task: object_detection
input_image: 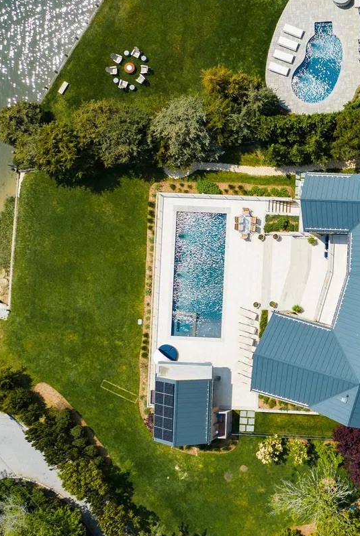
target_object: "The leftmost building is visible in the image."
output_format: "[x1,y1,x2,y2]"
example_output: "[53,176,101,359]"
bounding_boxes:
[152,360,220,447]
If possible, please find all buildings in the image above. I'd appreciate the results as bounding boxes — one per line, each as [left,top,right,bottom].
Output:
[251,170,360,428]
[152,360,220,447]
